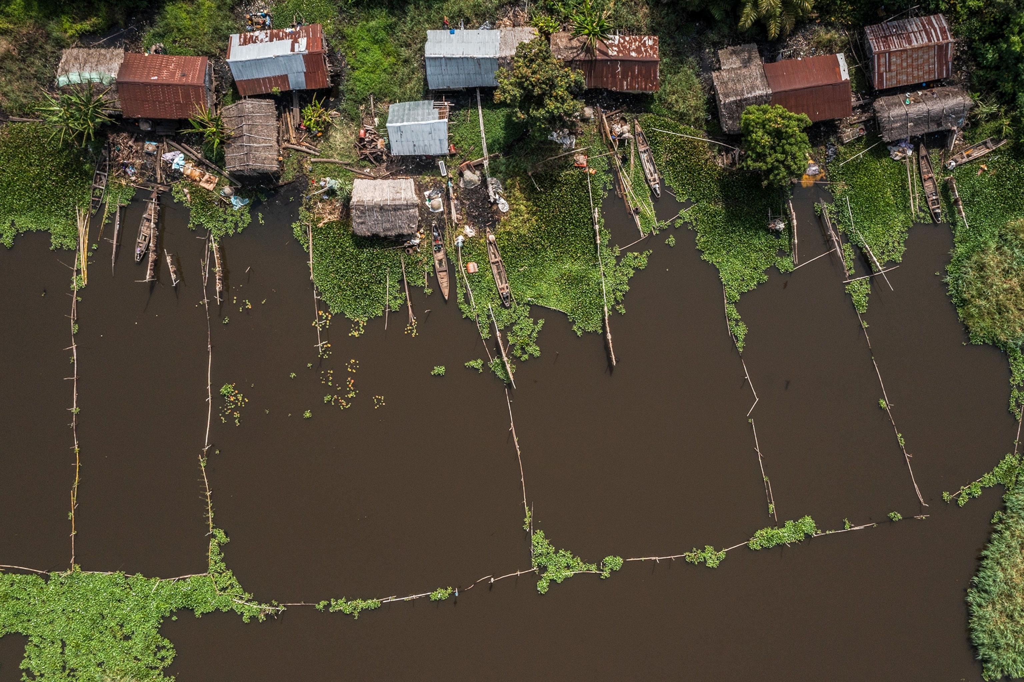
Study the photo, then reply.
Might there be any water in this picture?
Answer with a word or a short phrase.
Yes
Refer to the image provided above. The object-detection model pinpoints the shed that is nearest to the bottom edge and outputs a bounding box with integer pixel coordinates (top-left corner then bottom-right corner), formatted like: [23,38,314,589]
[349,175,420,239]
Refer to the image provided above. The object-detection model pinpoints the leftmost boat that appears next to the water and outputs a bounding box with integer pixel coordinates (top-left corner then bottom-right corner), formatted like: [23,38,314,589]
[90,141,109,217]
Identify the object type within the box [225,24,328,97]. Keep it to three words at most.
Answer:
shed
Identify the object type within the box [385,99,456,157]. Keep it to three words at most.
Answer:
shed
